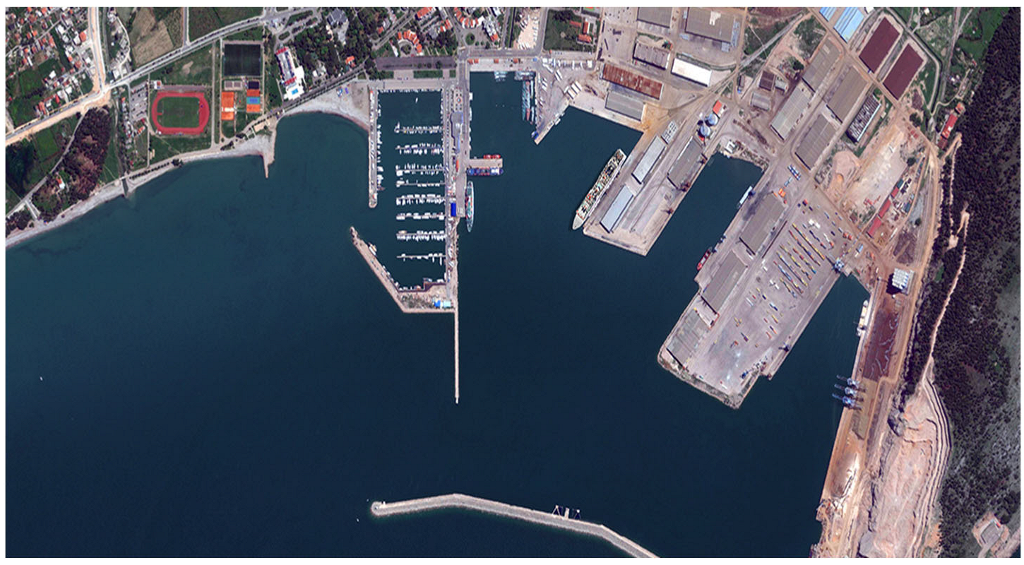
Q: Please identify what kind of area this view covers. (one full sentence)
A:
It's a port.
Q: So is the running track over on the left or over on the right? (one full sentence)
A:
The running track is on the left side of the image.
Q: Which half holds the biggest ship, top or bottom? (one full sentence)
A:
It is in the top half that the biggest ship appears.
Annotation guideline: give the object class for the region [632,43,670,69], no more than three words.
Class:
shed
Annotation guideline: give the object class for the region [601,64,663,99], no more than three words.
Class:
building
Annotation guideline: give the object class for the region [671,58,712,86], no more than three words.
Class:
building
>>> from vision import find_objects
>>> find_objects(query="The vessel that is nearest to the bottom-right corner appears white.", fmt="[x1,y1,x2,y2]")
[857,300,869,336]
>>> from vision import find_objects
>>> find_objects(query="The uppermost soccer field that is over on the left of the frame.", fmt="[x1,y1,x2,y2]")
[222,41,263,77]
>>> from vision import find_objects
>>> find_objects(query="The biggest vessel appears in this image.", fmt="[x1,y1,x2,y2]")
[573,149,627,229]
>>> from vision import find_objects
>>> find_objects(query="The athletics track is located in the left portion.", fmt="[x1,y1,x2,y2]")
[151,90,209,136]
